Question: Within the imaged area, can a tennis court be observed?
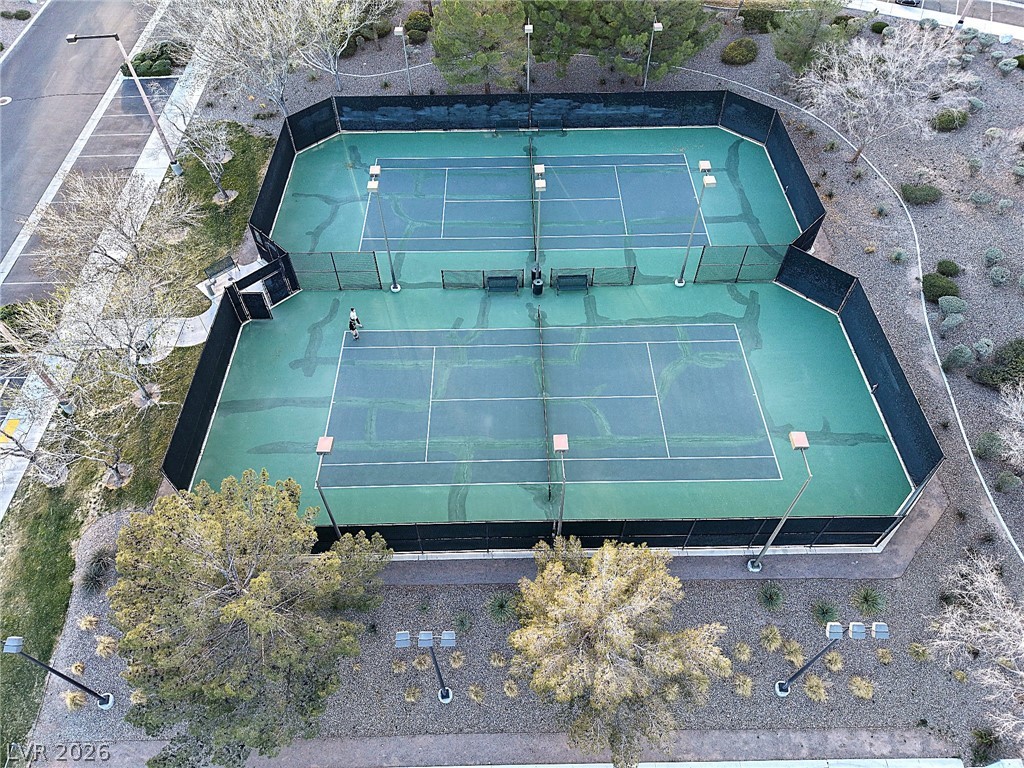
Yes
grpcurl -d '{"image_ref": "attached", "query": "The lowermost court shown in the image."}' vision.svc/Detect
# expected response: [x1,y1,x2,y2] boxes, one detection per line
[189,281,911,528]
